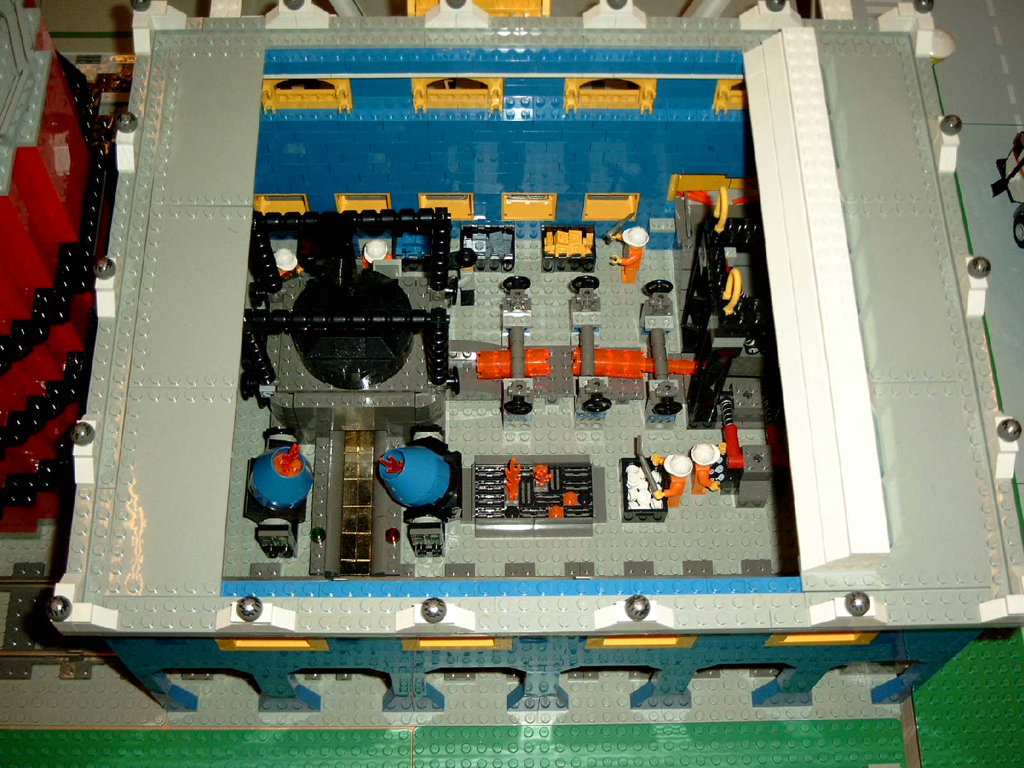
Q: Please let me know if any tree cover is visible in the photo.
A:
No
